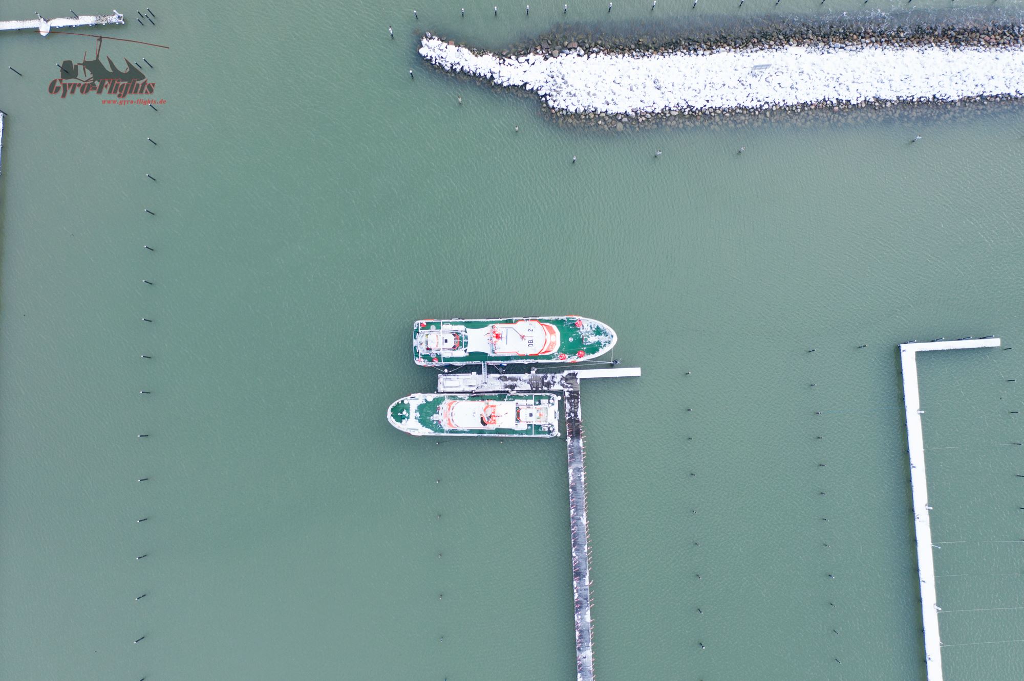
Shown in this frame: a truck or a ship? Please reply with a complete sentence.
The one in the frame is a ship.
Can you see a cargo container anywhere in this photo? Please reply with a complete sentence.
No, I can't see a single cargo container in this photo.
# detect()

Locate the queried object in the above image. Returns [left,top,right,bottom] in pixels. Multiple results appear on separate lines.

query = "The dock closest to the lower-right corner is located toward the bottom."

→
[897,338,1000,681]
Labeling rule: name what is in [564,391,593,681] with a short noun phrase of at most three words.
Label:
pier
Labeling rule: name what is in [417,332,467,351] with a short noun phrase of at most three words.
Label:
boat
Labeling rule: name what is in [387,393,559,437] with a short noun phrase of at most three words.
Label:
ship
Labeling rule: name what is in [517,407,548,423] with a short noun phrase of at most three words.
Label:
boat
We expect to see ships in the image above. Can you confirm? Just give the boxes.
[413,315,617,367]
[387,393,559,437]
